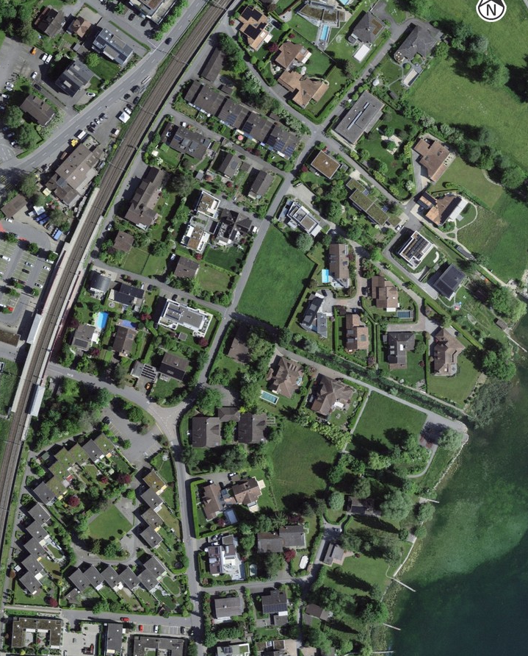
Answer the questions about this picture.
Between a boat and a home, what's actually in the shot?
home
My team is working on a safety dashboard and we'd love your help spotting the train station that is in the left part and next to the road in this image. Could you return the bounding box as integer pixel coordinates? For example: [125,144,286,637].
[11,184,105,441]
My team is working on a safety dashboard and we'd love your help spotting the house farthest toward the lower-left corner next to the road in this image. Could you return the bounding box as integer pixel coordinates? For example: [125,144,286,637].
[11,616,64,648]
